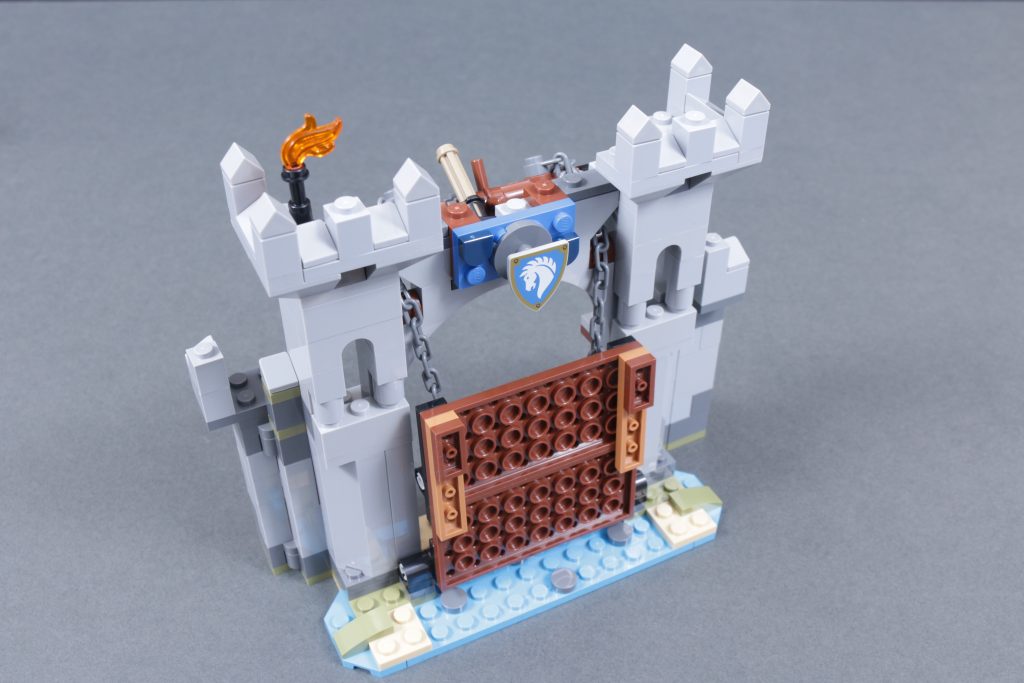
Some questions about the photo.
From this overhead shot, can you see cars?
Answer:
No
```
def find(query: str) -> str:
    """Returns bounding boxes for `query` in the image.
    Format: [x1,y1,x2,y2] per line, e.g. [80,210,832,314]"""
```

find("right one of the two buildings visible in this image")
[593,44,770,488]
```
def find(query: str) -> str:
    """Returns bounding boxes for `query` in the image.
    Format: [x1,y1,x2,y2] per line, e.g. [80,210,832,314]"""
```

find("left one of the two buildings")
[221,144,444,600]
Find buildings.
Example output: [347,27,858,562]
[593,44,770,488]
[221,144,444,600]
